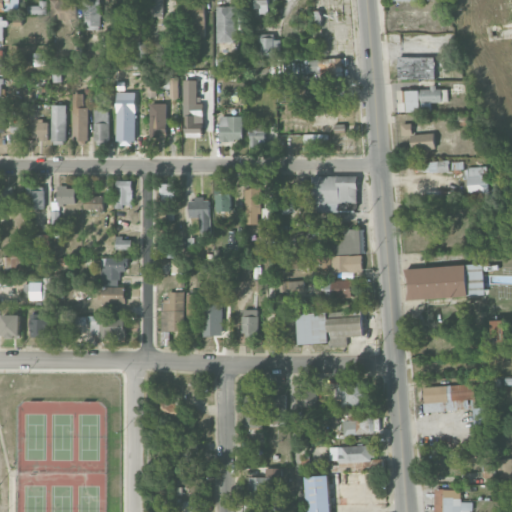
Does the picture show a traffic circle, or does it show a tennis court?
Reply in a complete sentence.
I can see a tennis court in this picture.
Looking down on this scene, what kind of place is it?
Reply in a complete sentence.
It's a residential area.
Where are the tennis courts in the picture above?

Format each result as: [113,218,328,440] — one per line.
[24,414,47,461]
[78,414,100,461]
[22,486,48,512]
[52,414,74,461]
[50,486,76,512]
[76,486,102,512]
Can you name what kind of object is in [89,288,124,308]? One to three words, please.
house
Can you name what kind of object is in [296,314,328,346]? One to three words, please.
building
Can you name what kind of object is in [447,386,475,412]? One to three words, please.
shed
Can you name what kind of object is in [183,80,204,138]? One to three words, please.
house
